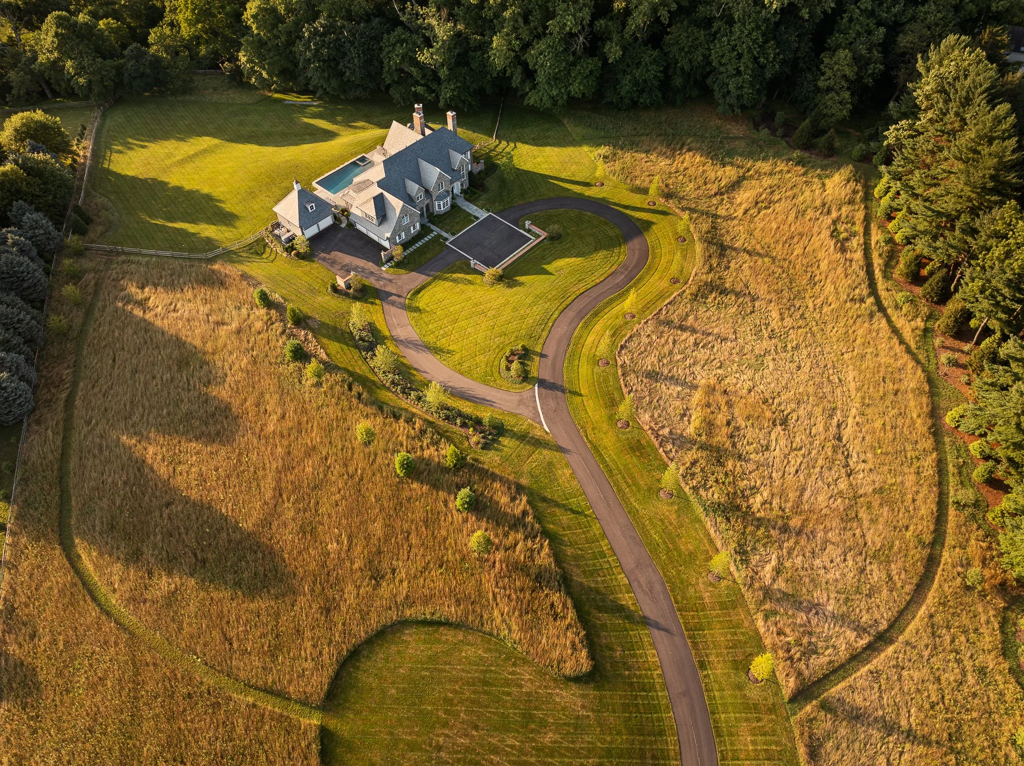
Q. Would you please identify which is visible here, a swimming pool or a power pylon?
swimming pool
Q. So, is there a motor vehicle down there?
No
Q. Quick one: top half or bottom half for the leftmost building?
top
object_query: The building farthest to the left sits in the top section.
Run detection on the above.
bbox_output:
[270,175,335,238]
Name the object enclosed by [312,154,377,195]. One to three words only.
swimming pool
